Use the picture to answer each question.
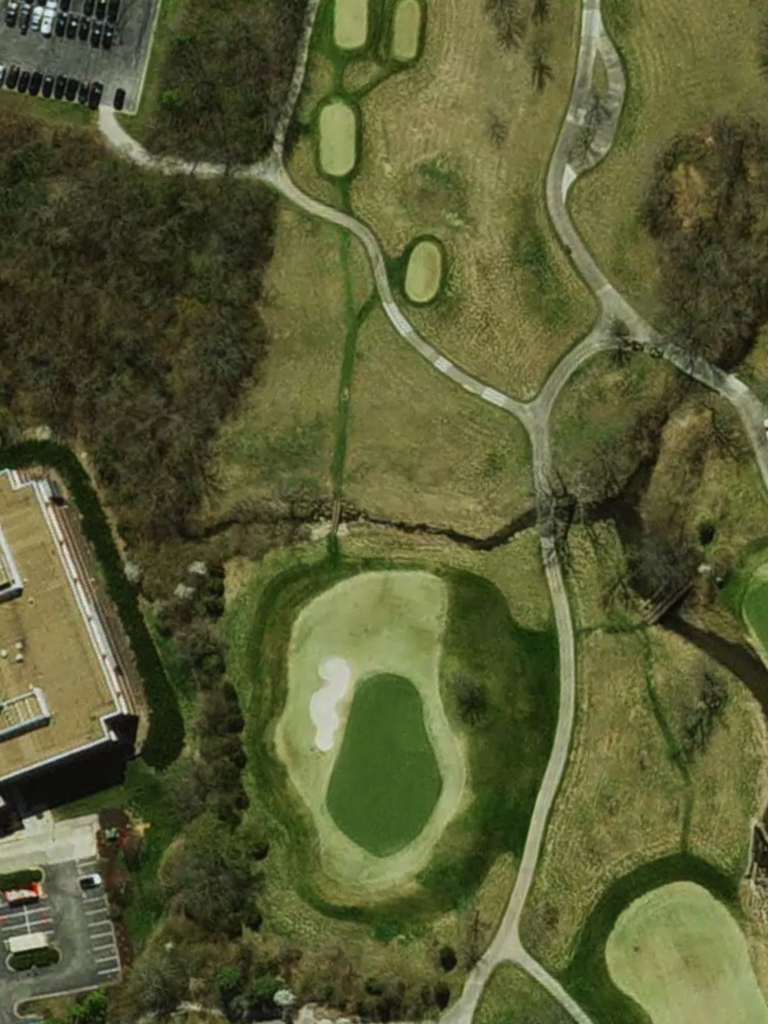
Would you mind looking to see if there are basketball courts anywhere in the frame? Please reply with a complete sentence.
No, the scene contains no basketball court.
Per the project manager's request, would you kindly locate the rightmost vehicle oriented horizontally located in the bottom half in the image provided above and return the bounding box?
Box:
[78,874,100,886]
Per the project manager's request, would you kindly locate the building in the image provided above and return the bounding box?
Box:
[0,468,140,783]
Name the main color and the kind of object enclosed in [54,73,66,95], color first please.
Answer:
black vehicle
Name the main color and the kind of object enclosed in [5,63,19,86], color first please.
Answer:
black car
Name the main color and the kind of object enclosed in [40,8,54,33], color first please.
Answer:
white vehicle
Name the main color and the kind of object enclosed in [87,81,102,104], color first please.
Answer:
black vehicle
